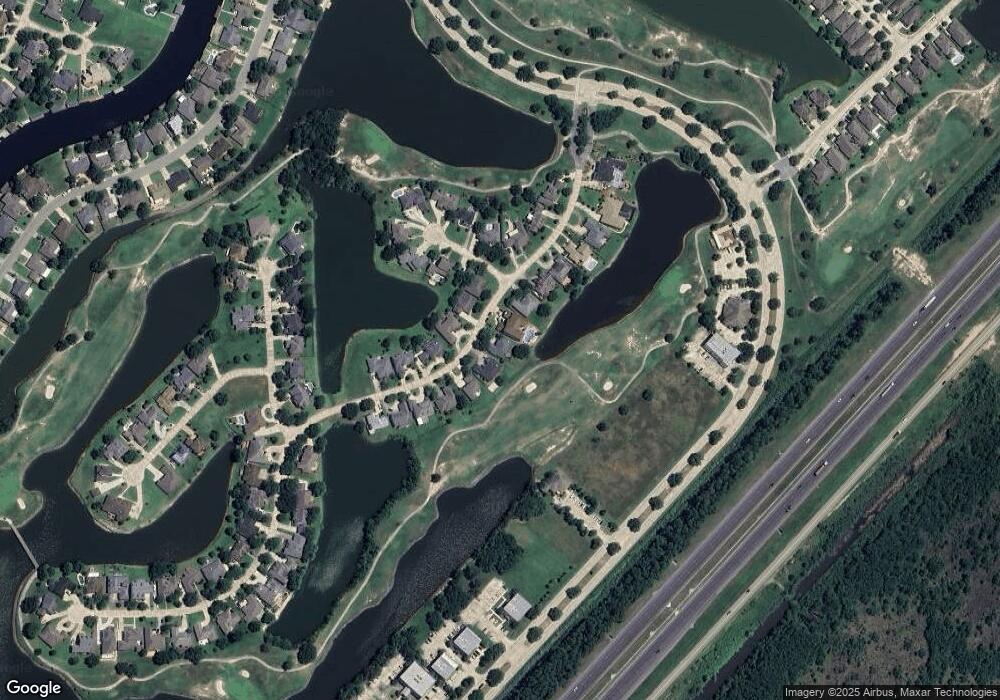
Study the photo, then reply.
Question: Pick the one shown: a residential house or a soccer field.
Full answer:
Visible in the photo is a residential house.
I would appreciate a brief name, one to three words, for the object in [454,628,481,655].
building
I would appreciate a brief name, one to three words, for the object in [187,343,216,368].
house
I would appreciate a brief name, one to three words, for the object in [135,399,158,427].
house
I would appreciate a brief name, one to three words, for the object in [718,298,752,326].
building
